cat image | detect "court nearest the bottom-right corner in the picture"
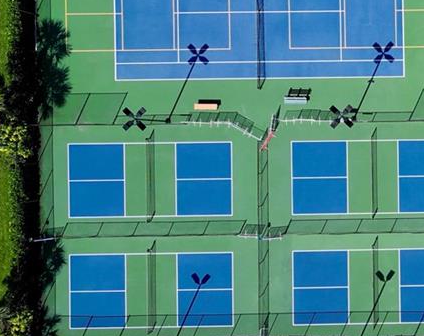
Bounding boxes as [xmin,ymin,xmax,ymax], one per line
[292,248,424,325]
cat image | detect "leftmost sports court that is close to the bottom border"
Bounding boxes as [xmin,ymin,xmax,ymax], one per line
[69,252,234,329]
